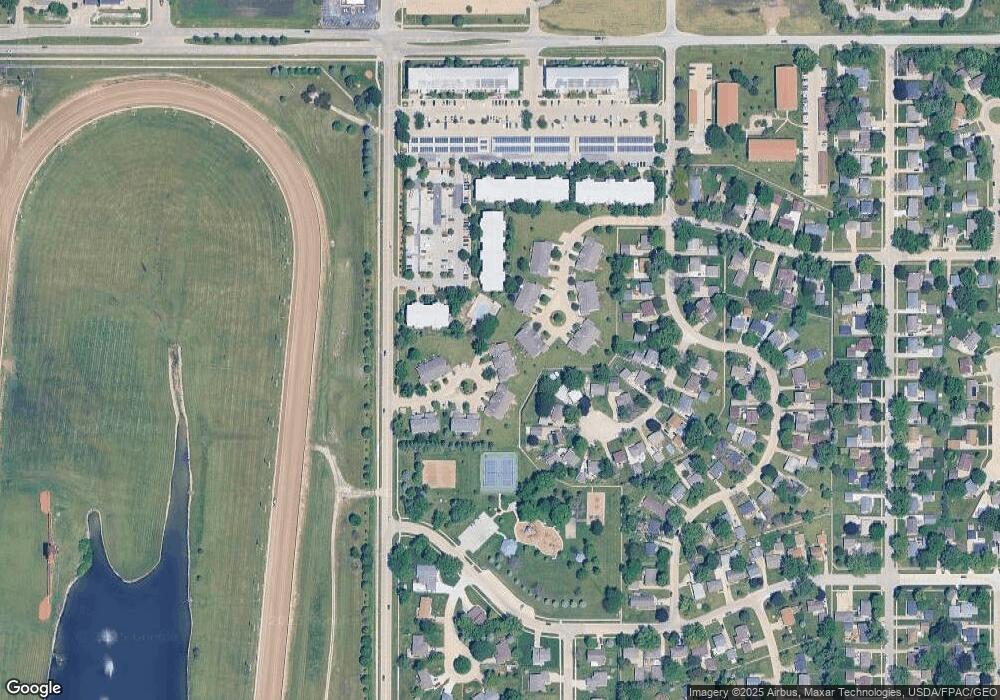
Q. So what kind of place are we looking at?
sports ground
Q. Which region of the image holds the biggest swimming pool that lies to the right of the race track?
center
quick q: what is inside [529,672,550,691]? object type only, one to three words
house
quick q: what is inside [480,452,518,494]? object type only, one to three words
tennis court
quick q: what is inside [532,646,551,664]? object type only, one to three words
house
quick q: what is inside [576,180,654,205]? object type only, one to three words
building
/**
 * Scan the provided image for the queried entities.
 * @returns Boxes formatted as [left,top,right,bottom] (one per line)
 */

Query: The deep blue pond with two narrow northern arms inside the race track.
[44,418,190,700]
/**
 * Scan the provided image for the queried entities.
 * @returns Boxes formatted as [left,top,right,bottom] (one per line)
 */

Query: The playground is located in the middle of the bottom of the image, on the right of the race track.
[514,520,563,559]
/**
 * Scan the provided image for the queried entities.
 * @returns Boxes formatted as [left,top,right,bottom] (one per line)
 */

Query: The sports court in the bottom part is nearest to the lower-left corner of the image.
[422,459,457,488]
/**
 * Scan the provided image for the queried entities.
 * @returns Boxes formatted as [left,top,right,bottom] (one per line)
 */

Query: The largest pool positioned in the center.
[468,294,500,328]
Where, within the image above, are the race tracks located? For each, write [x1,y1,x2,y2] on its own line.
[0,74,329,700]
